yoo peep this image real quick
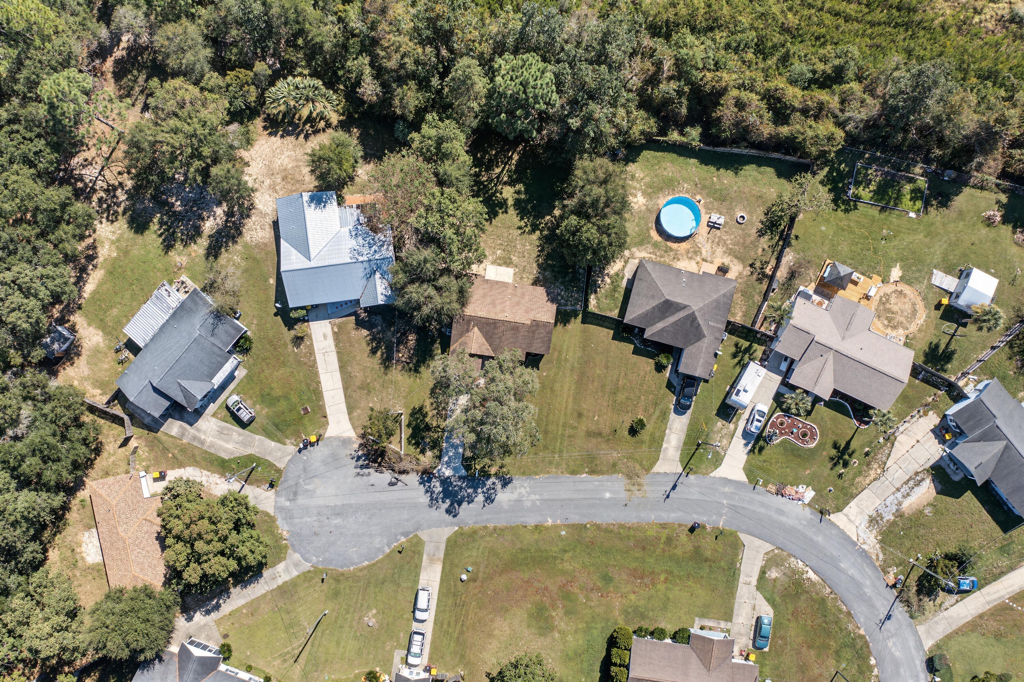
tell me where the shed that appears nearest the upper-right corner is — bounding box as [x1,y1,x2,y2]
[948,267,999,315]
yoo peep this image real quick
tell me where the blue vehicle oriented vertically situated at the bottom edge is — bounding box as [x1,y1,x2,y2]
[755,616,774,652]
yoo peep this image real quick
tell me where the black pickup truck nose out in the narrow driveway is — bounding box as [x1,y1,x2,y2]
[678,374,699,415]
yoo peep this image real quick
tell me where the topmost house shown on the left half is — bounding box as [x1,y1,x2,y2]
[276,191,400,307]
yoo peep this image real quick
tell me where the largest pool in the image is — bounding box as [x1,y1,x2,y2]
[657,195,702,241]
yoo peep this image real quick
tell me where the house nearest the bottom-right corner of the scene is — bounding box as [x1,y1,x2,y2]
[942,377,1024,530]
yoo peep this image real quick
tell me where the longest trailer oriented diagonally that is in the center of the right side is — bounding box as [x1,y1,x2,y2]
[723,360,767,414]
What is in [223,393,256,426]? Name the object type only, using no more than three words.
car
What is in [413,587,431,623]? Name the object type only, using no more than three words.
car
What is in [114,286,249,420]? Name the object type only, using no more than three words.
house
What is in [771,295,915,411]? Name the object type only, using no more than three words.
house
